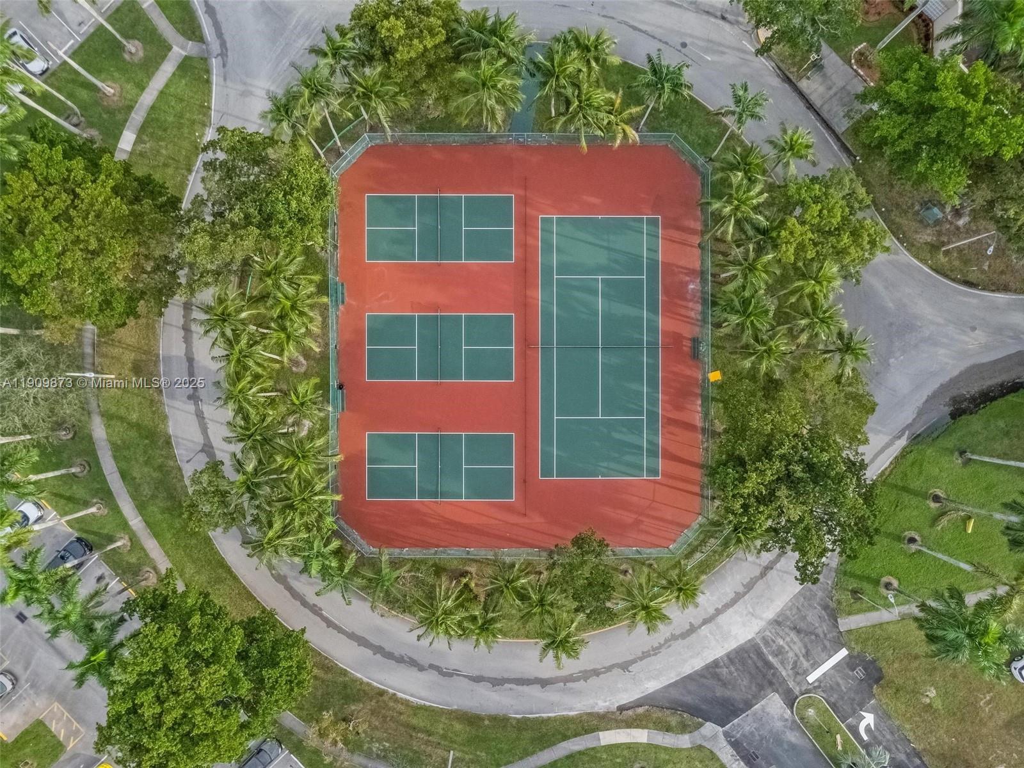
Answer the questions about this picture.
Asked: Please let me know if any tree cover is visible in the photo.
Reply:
Yes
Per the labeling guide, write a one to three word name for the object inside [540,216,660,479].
tennis court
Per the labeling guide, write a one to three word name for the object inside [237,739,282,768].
car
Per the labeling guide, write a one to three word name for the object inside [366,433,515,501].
sports court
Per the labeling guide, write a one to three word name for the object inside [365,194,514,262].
sports court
